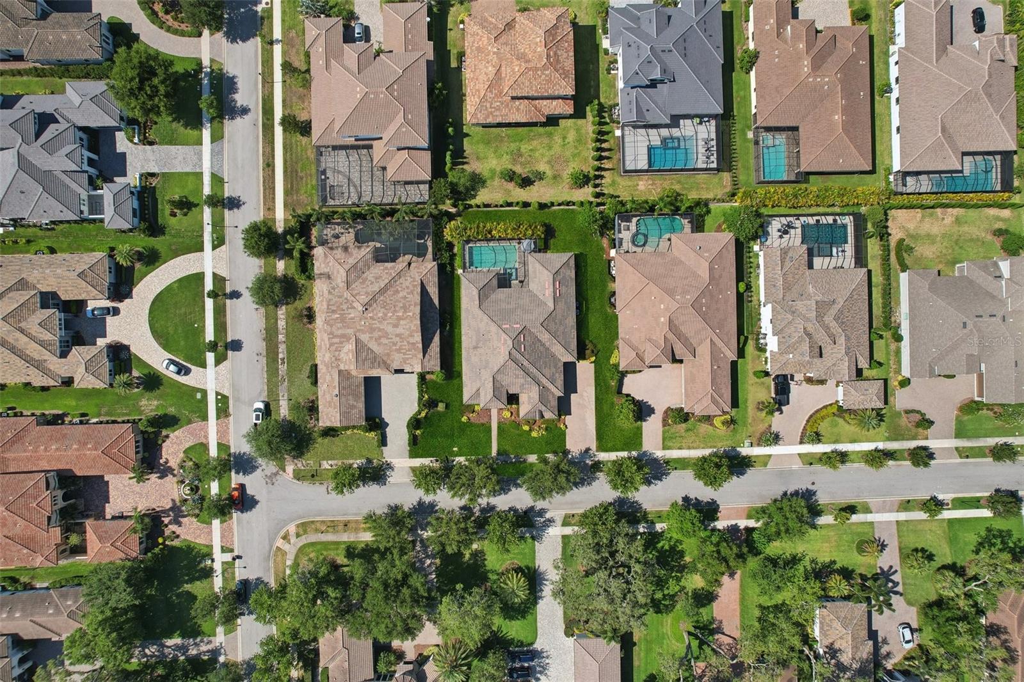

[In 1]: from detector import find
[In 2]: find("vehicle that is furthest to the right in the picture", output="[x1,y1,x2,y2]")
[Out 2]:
[973,5,988,31]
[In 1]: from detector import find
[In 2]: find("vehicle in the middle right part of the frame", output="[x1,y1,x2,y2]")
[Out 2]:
[775,376,788,404]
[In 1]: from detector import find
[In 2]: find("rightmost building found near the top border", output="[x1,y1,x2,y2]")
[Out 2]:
[890,0,1018,173]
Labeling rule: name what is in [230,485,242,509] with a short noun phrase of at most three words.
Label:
vehicle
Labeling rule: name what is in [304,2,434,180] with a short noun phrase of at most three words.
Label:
house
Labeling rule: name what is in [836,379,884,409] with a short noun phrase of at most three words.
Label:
building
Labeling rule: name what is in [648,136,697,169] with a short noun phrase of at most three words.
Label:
swimming pool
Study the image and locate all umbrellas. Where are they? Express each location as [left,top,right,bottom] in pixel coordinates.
[757,232,769,244]
[520,237,536,253]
